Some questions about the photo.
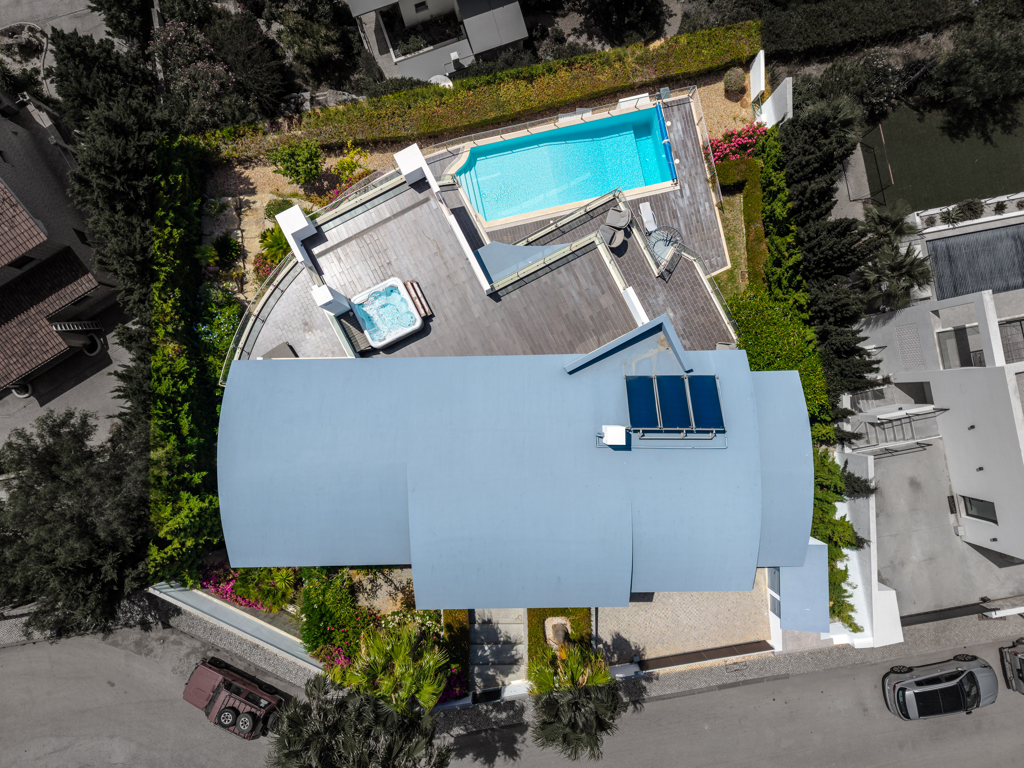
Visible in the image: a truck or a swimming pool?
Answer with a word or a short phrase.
swimming pool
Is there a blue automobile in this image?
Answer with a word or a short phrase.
No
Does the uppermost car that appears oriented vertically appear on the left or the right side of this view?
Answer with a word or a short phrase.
right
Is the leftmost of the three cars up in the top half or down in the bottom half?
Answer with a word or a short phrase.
bottom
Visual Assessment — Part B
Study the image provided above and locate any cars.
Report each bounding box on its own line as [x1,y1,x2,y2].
[180,654,284,743]
[880,652,998,721]
[1001,636,1024,692]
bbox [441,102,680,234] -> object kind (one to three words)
swimming pool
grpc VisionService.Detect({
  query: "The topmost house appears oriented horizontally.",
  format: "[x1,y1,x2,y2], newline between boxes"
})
[349,0,528,84]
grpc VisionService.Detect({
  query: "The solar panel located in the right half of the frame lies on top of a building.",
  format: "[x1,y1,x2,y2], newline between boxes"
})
[624,373,727,440]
